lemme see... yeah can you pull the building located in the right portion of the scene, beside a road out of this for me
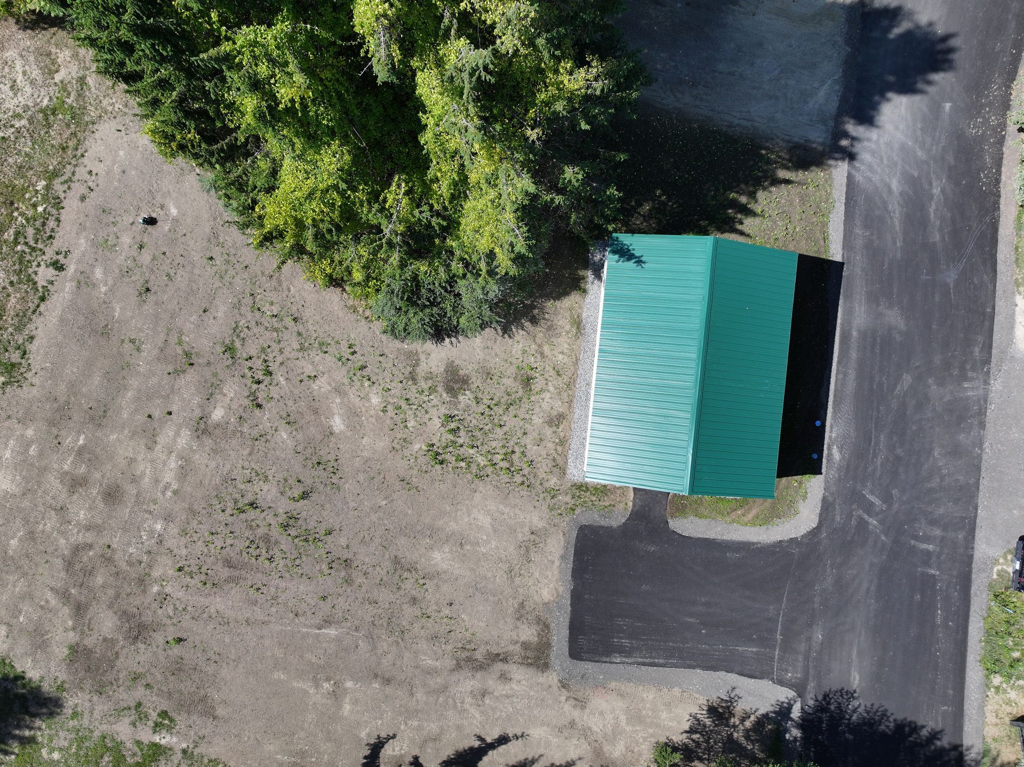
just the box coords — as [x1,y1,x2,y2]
[583,232,799,500]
